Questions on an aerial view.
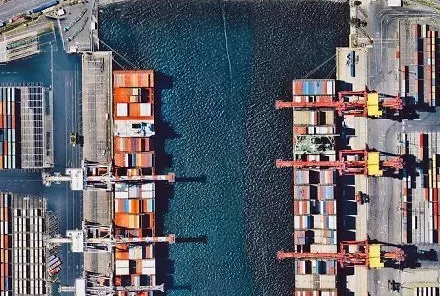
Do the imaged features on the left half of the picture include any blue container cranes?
No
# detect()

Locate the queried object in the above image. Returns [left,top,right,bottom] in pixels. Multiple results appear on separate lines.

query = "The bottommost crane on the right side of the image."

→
[274,239,407,273]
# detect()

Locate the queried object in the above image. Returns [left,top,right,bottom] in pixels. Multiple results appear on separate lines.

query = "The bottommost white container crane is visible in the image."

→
[56,273,165,296]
